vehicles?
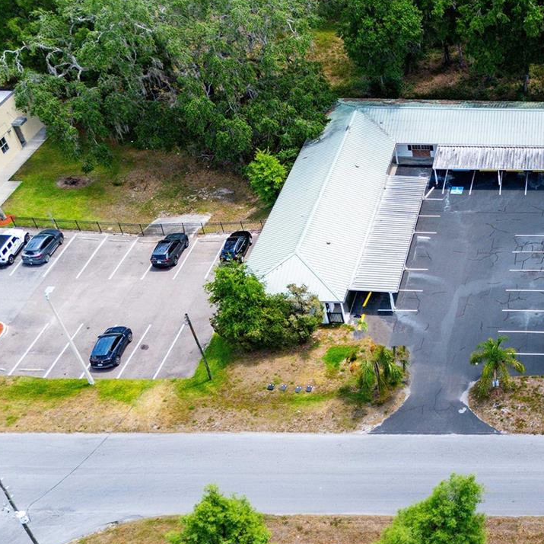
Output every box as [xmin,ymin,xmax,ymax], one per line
[0,229,35,263]
[23,227,67,261]
[221,230,257,263]
[92,320,139,364]
[151,230,190,263]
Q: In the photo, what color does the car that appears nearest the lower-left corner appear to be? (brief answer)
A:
blue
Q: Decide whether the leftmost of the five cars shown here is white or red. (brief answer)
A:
white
